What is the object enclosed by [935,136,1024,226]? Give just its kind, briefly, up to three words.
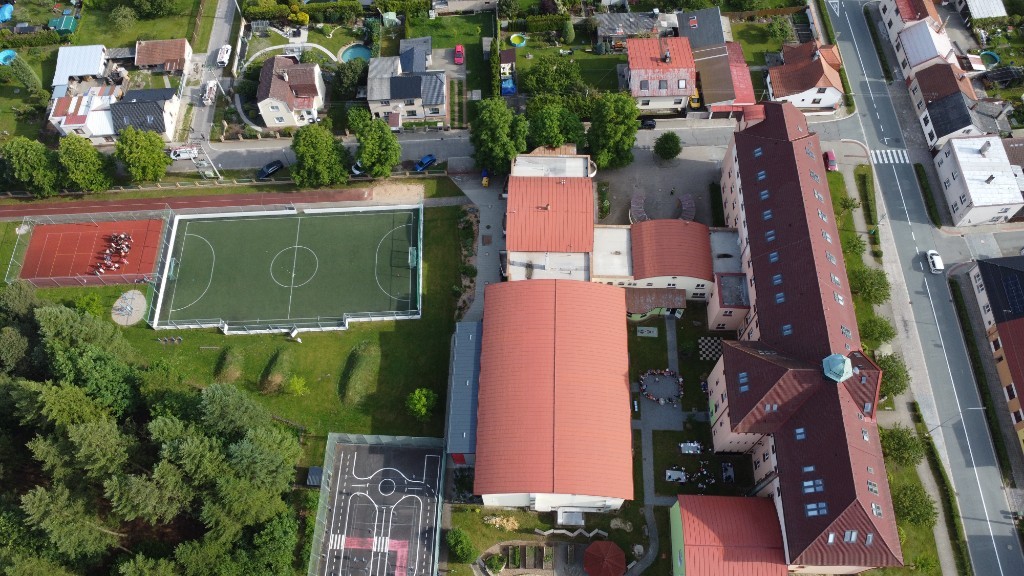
house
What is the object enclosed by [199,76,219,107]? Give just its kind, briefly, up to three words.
vehicle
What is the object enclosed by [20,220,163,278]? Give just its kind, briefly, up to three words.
sports court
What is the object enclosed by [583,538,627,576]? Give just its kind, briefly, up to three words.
gazebo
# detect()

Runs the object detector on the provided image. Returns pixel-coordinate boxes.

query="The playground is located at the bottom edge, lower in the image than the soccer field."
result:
[318,443,442,576]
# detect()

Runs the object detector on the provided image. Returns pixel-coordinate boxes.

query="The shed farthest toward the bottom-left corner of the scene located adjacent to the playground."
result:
[307,467,326,488]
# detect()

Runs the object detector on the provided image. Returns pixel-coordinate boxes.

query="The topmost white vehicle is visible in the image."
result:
[216,41,232,68]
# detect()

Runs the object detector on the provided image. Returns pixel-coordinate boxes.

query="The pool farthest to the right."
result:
[982,51,1000,69]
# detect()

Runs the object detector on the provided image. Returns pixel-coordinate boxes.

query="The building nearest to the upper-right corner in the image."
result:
[950,0,1007,35]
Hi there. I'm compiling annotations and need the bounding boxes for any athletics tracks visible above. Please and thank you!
[0,188,372,218]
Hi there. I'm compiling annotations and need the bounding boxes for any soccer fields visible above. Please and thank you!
[155,206,423,336]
